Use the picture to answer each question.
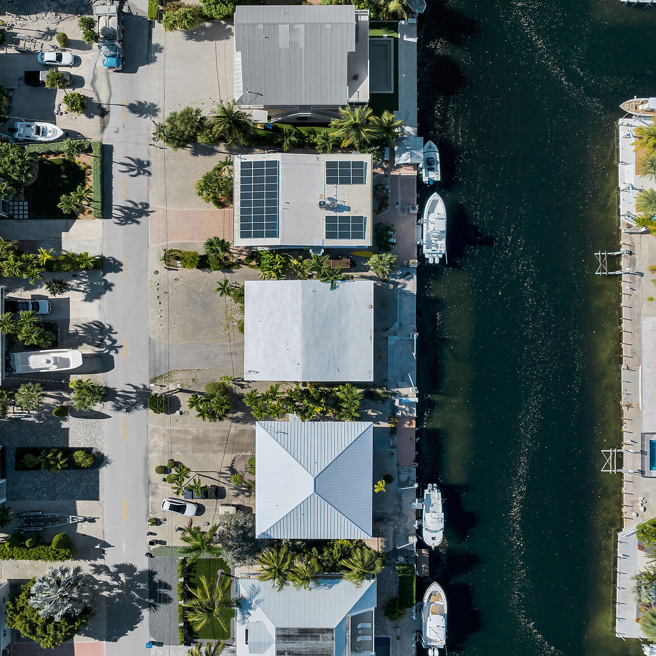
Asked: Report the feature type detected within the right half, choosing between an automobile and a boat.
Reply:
boat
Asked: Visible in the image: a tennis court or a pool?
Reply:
pool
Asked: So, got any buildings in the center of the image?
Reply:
Yes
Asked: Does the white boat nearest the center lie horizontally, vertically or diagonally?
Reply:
vertically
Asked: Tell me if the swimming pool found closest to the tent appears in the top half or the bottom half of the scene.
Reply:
top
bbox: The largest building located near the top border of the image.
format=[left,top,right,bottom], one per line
[234,5,369,122]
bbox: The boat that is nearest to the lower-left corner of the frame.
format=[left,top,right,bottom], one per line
[10,350,82,373]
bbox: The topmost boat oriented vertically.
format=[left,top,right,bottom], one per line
[424,140,439,187]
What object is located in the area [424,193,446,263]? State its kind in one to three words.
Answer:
boat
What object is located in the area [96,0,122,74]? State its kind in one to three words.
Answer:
truck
